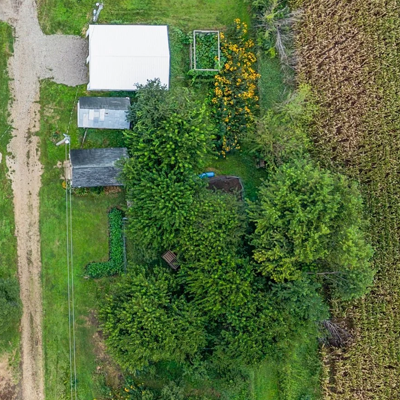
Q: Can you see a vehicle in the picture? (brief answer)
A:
No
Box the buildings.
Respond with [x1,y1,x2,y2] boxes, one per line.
[78,97,130,129]
[72,148,130,187]
[89,25,170,90]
